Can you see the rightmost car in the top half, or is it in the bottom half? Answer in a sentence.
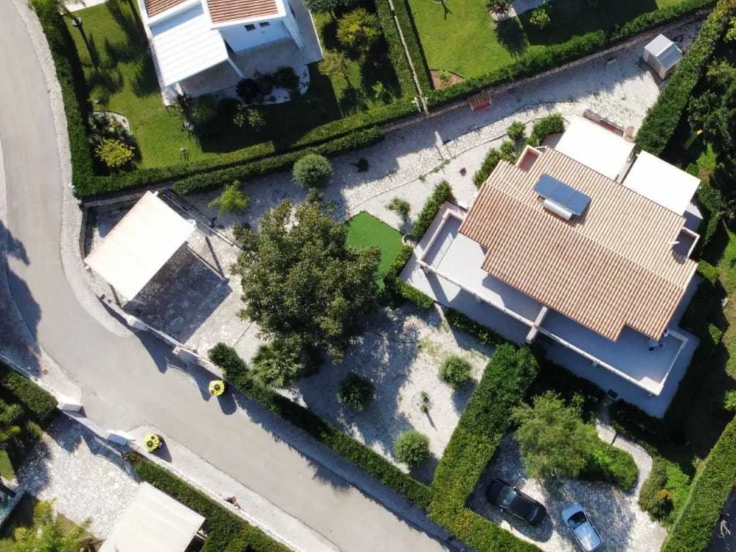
The rightmost car sits in the bottom half of the picture.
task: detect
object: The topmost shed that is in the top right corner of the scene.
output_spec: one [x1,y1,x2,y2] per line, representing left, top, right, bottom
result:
[642,35,683,78]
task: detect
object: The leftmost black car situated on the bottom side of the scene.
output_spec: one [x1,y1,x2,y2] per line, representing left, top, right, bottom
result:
[484,475,551,529]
